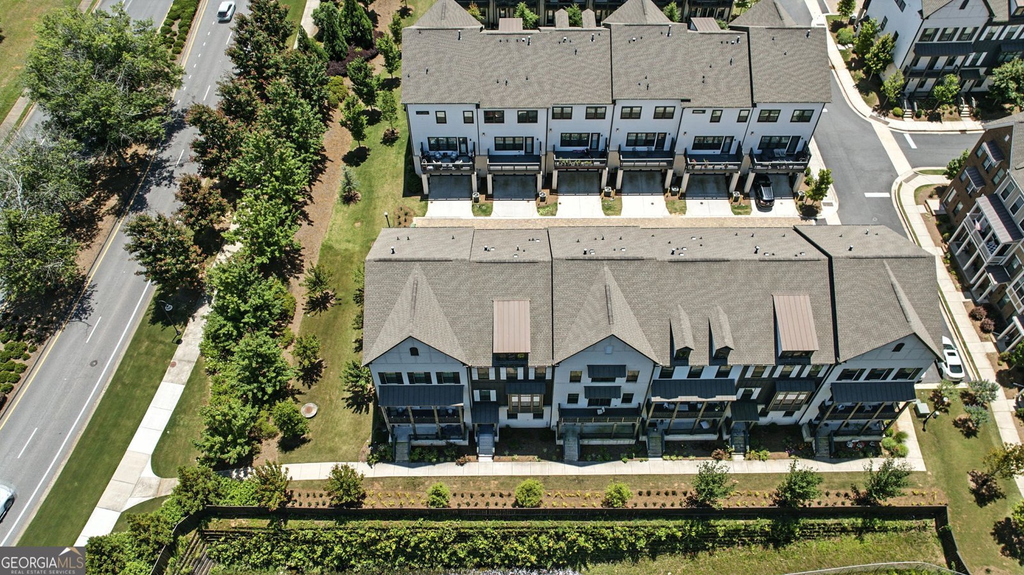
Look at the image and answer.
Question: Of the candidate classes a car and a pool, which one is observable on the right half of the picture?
car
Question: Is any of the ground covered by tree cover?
Yes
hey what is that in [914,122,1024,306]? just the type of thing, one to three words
house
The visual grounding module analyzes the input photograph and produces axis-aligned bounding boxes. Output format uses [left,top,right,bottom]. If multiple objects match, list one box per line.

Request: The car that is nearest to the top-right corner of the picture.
[751,176,775,208]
